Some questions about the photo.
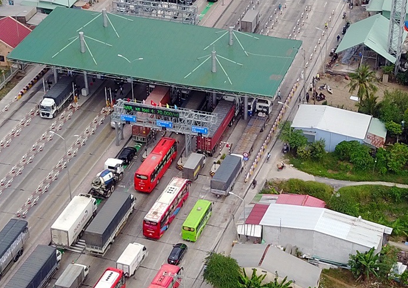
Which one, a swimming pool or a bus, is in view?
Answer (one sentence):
There is a bus in the scene.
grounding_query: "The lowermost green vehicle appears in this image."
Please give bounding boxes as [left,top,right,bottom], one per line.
[181,200,216,245]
